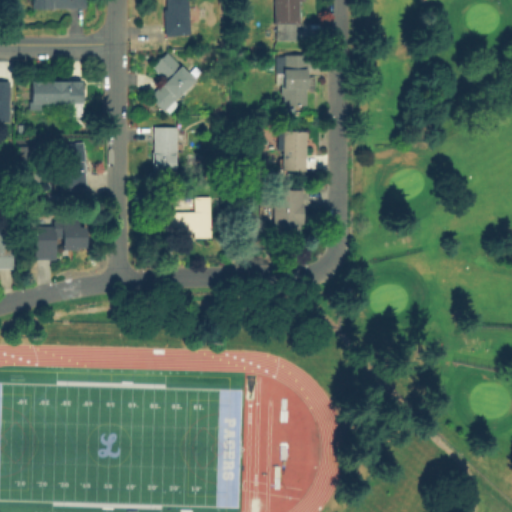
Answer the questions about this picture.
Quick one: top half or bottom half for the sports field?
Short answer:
bottom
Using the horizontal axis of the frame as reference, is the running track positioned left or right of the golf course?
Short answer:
to the left of it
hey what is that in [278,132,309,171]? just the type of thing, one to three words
house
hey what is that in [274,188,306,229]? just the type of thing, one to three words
house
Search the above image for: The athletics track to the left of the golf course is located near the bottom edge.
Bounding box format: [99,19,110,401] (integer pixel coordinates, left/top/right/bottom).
[0,345,344,512]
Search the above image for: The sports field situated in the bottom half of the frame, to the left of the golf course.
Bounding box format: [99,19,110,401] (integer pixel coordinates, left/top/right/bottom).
[0,367,244,512]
